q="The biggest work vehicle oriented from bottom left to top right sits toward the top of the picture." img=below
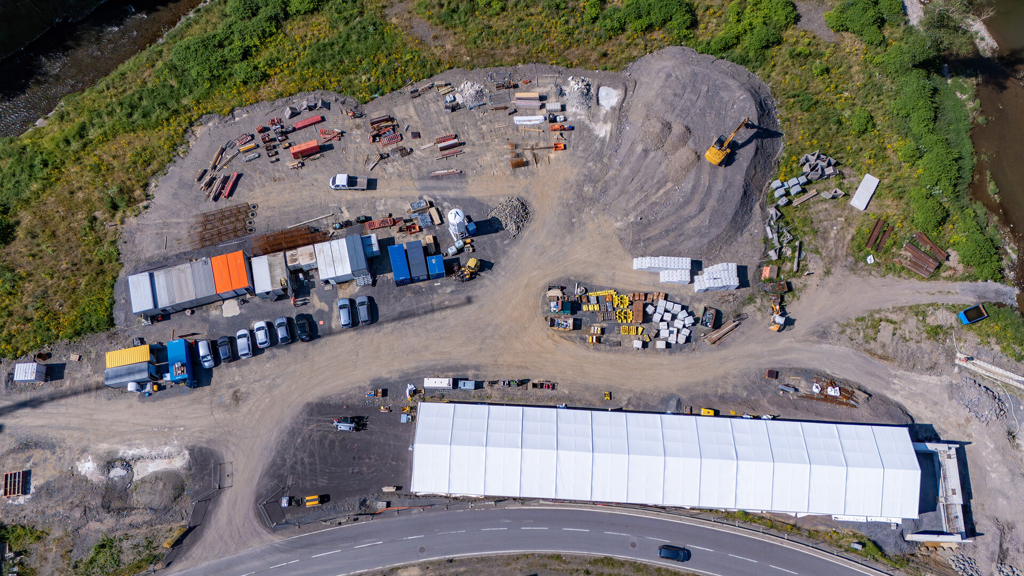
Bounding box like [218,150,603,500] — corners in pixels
[700,116,750,172]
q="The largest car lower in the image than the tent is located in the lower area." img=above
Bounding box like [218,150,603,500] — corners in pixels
[657,545,689,563]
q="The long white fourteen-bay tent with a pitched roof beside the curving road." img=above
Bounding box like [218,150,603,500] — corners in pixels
[411,402,922,519]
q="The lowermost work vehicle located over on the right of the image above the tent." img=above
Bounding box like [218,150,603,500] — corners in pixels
[767,299,784,333]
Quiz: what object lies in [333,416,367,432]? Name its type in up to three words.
work vehicle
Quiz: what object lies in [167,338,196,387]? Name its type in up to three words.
shipping container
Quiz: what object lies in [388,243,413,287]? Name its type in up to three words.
shipping container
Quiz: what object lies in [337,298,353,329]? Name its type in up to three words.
car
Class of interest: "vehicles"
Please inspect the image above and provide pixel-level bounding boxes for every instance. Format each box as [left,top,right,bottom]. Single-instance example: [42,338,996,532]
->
[700,116,750,172]
[356,296,372,326]
[306,494,321,505]
[254,321,272,349]
[337,298,353,329]
[295,313,312,343]
[236,330,254,359]
[275,317,292,345]
[196,340,216,369]
[330,174,369,190]
[128,381,156,394]
[767,299,784,333]
[465,245,473,254]
[452,255,485,286]
[217,336,235,363]
[333,416,367,432]
[657,545,689,563]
